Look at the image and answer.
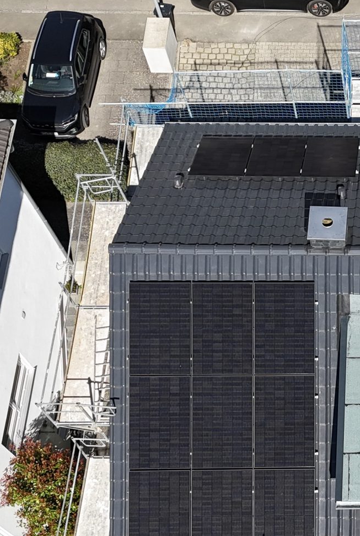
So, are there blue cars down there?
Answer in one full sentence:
No, no blue car is visible in the scene.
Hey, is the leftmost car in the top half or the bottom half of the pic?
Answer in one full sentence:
The top half of the photo is where the leftmost car is.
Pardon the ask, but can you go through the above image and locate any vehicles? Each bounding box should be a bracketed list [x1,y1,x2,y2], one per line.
[14,2,104,147]
[188,0,351,18]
